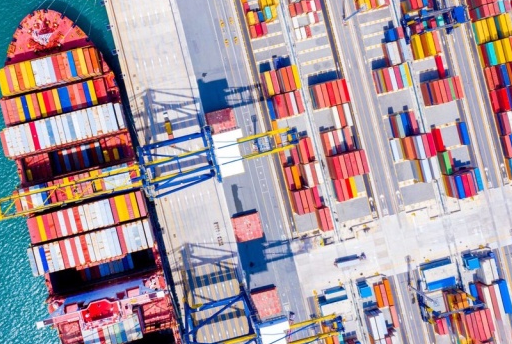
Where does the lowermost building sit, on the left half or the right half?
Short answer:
right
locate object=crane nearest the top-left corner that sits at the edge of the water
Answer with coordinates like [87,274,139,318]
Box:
[0,121,302,222]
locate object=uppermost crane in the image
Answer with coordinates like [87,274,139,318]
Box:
[396,2,470,43]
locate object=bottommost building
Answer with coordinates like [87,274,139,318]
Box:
[318,296,353,319]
